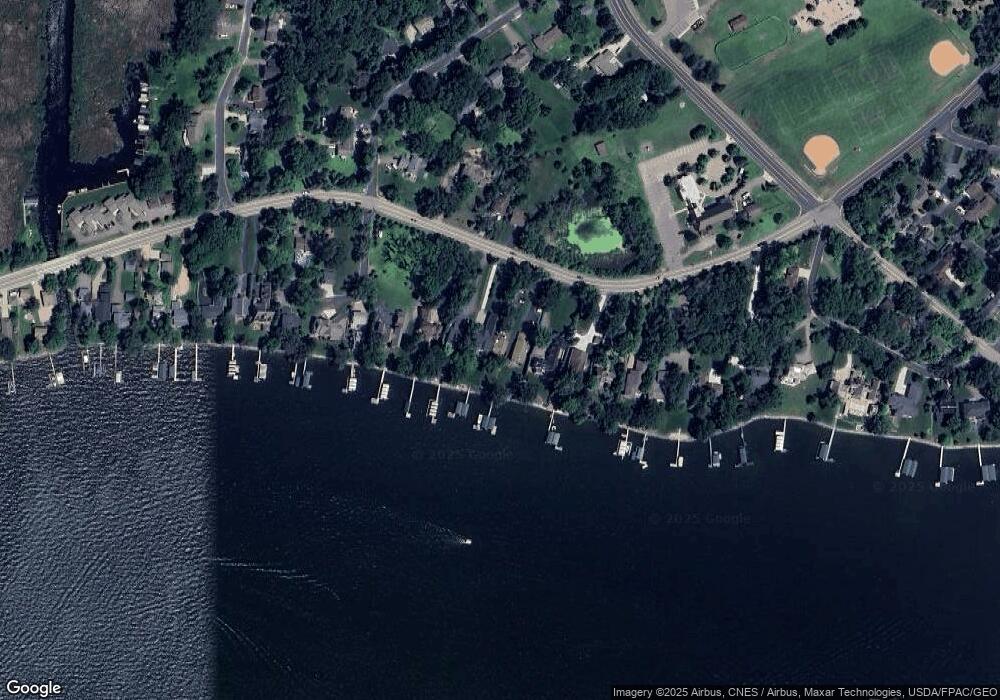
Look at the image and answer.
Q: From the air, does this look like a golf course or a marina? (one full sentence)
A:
This looks like a marina.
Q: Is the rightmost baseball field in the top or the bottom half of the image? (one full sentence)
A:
Seen from above, the rightmost baseball field lies in the top half of the view.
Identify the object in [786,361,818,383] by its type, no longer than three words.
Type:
house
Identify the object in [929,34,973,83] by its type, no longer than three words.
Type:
baseball field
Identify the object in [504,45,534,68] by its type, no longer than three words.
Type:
house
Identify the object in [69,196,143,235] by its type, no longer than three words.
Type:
building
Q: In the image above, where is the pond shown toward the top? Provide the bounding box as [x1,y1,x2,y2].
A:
[568,207,624,255]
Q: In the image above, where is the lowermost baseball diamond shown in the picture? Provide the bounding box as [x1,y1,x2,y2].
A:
[797,134,846,179]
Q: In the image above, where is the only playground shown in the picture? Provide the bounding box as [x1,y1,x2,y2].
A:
[795,0,863,35]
